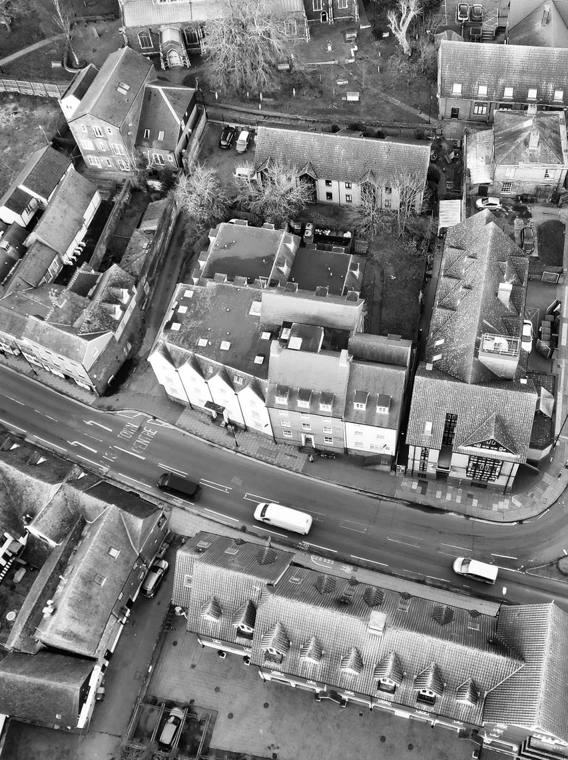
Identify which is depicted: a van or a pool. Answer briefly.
van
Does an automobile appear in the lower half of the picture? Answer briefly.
Yes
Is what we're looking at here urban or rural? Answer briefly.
urban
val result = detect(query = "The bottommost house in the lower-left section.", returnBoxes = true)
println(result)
[0,640,113,734]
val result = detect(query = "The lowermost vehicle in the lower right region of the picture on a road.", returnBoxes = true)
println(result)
[451,555,502,584]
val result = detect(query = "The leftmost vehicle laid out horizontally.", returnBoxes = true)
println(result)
[156,475,203,503]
